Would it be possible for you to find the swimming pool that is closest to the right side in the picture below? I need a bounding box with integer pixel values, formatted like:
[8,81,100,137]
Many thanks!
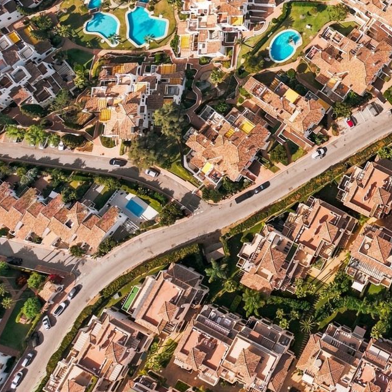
[267,28,303,64]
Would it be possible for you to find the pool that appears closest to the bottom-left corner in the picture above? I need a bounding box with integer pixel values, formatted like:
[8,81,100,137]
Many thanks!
[118,283,139,314]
